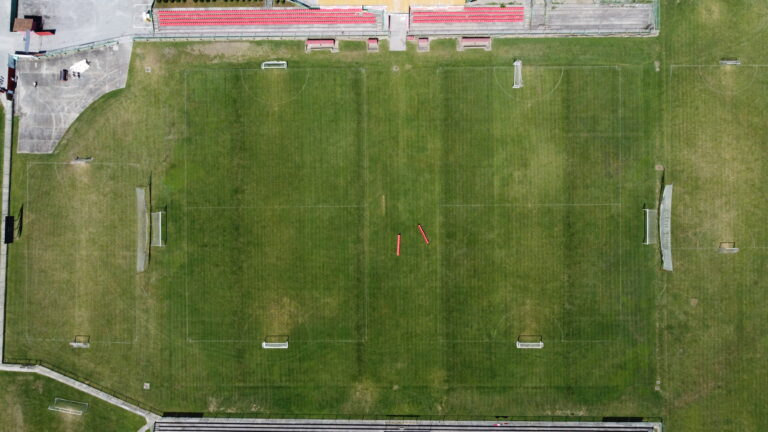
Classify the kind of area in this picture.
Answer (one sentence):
It's a sports ground.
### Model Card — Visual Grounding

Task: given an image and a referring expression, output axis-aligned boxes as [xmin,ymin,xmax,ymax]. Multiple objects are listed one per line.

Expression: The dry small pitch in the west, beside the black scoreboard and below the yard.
[27,163,137,344]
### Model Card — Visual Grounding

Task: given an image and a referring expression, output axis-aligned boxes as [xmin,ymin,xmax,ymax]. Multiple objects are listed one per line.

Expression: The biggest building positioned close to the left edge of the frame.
[12,18,42,37]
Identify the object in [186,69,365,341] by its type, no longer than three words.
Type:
soccer field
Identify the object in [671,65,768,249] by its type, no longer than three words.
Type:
soccer field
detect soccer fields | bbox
[27,163,137,344]
[186,69,365,341]
[441,66,620,342]
[671,65,768,249]
[166,68,646,387]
